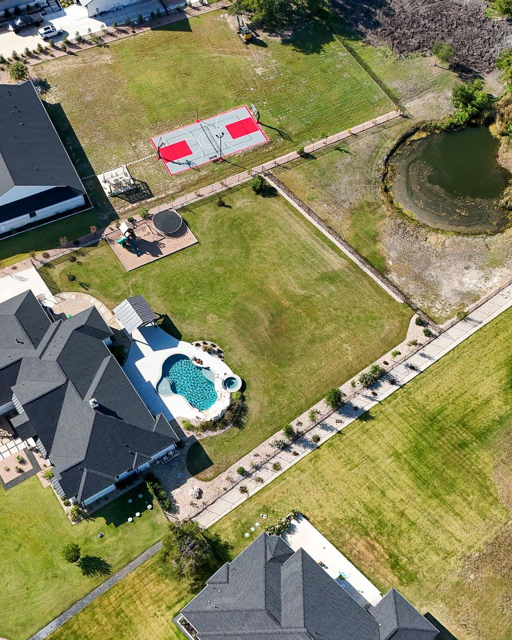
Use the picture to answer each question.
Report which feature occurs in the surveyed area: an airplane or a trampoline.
trampoline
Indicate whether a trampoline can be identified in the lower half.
No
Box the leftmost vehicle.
[9,12,42,32]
